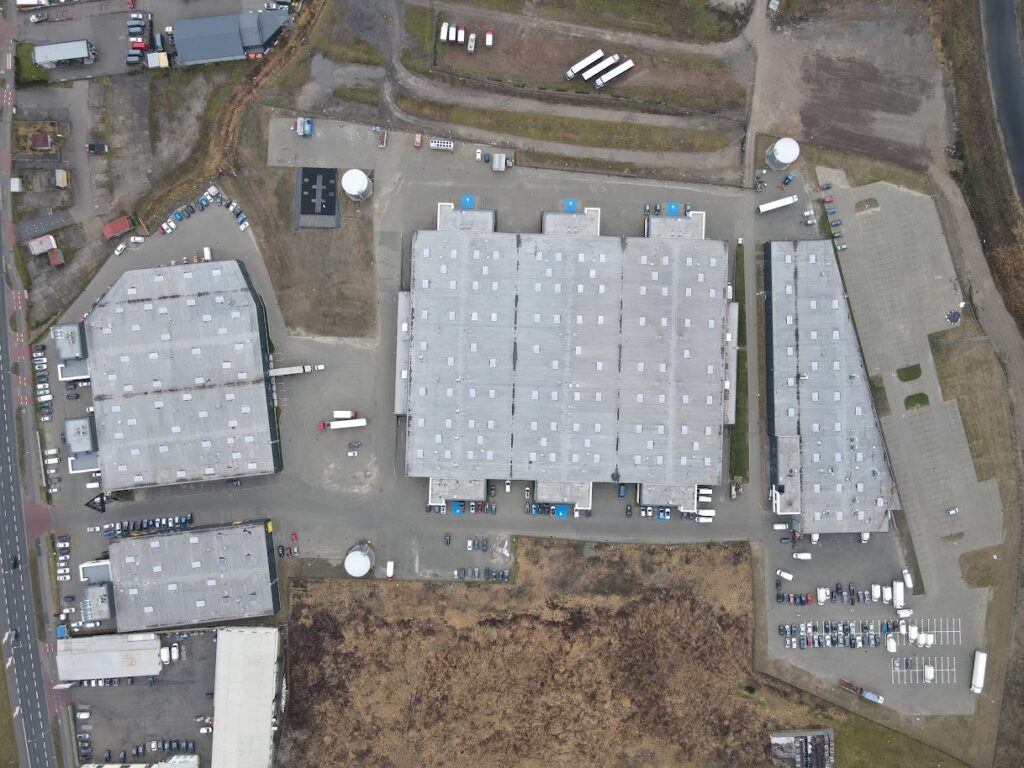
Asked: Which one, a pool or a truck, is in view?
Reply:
truck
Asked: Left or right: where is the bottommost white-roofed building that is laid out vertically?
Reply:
left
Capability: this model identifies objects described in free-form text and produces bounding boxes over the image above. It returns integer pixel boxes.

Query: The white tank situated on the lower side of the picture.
[344,542,379,577]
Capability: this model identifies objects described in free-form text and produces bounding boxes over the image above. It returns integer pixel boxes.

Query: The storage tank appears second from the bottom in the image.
[342,169,376,205]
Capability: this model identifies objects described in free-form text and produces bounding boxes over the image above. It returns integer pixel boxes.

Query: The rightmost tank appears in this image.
[762,137,800,174]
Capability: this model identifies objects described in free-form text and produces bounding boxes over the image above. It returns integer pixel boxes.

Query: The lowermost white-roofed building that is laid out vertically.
[212,623,283,768]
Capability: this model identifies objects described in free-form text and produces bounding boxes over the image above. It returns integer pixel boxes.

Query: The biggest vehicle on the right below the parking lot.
[970,649,987,693]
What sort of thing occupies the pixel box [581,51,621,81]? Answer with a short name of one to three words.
truck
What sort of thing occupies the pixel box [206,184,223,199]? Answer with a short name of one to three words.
vehicle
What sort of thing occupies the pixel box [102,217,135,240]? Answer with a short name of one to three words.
shed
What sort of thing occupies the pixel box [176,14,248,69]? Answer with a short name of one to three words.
building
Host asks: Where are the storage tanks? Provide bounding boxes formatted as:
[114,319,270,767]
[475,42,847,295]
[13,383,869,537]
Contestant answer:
[762,137,800,174]
[342,169,376,205]
[344,542,379,577]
